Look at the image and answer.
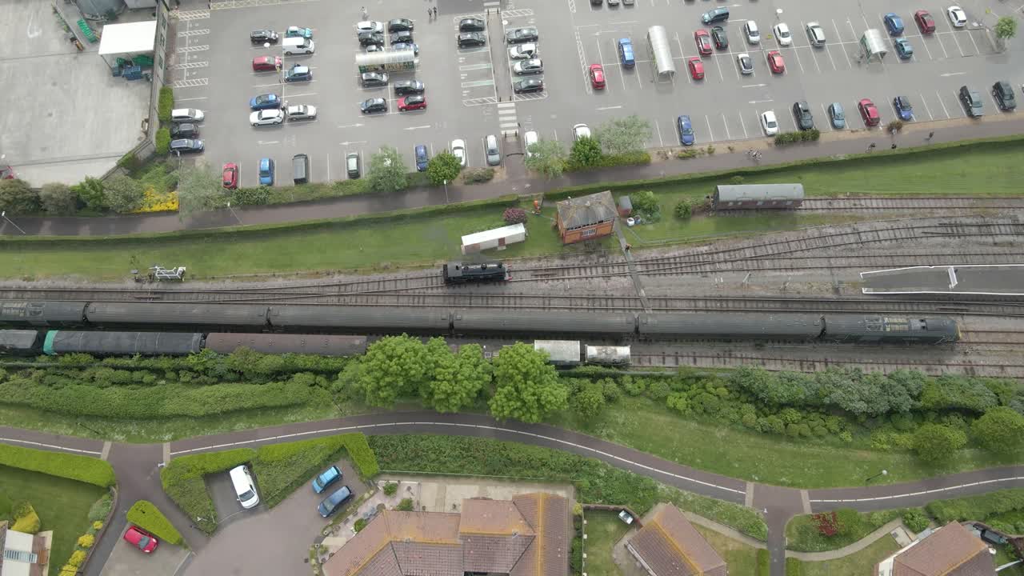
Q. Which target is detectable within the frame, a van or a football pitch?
van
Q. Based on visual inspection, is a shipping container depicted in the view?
Yes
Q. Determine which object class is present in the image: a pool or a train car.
train car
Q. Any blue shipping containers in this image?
No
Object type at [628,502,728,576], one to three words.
house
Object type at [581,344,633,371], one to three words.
rail car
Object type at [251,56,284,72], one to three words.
car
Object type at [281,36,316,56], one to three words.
vehicle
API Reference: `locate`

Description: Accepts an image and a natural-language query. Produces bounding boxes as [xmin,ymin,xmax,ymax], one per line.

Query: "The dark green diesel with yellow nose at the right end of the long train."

[814,315,959,345]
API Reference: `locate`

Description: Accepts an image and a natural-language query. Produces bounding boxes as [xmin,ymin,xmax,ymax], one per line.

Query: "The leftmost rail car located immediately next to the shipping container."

[438,258,511,287]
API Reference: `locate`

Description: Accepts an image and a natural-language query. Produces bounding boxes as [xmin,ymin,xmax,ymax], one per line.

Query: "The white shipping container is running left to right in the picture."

[462,224,526,253]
